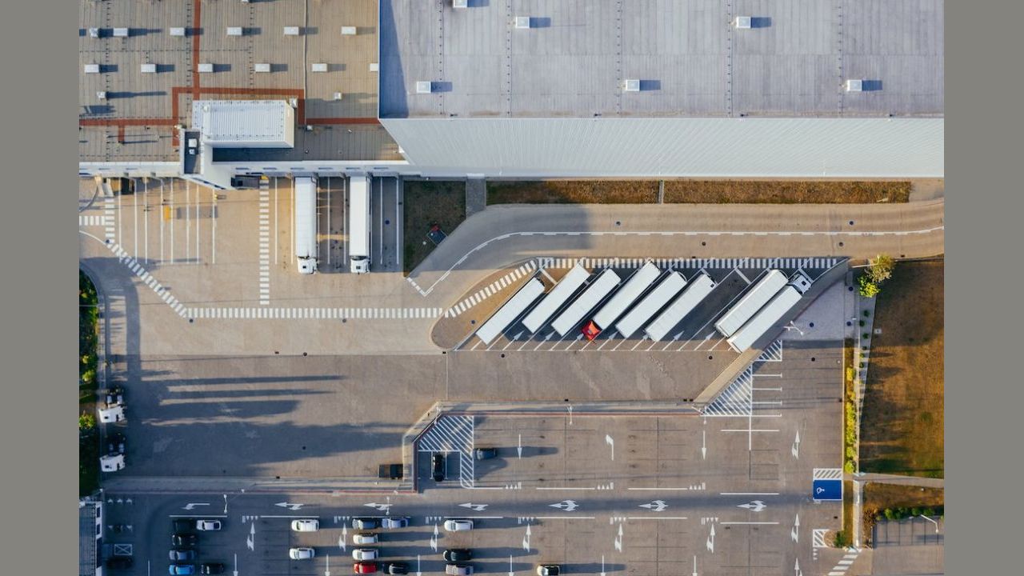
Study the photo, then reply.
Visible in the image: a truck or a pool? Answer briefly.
truck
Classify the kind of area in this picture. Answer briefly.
industrial area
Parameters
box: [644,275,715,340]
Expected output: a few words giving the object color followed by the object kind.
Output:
white trailer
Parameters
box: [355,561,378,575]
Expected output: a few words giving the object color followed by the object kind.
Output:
red car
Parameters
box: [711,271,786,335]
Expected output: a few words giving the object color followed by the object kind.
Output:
white trailer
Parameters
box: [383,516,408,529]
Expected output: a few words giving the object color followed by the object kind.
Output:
blue vehicle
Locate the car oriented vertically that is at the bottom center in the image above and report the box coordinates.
[432,452,445,481]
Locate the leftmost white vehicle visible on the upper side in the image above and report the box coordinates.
[296,178,318,275]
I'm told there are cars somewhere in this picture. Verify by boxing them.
[537,563,559,576]
[355,561,378,575]
[174,518,199,532]
[383,516,408,529]
[172,547,197,561]
[445,518,473,532]
[292,518,320,532]
[354,517,379,530]
[385,561,409,575]
[198,518,222,531]
[432,452,445,481]
[291,546,316,560]
[445,547,472,561]
[354,546,379,560]
[172,533,198,546]
[203,561,226,575]
[475,447,497,460]
[354,532,378,546]
[171,562,196,576]
[447,562,473,576]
